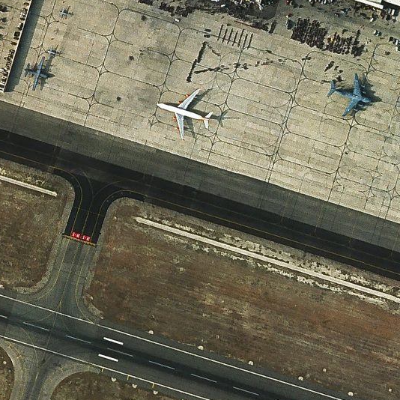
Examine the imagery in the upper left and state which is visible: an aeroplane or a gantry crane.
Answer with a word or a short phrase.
aeroplane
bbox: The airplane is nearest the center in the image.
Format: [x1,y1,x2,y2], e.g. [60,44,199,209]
[157,89,211,138]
